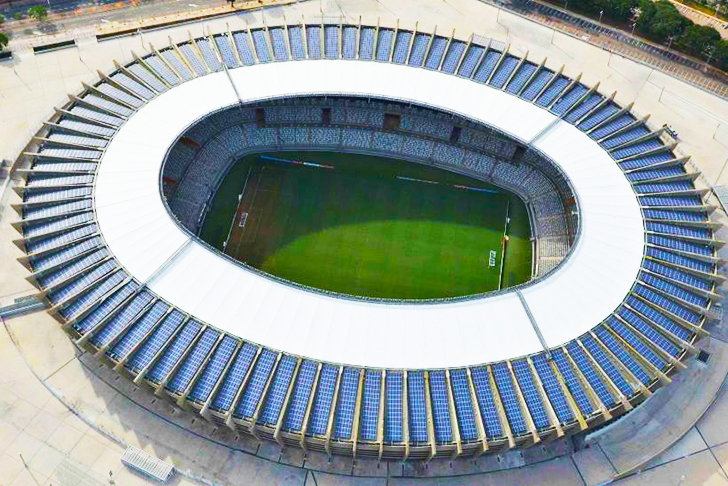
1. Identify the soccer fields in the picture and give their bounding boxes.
[200,149,531,301]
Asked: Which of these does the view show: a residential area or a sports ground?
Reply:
sports ground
